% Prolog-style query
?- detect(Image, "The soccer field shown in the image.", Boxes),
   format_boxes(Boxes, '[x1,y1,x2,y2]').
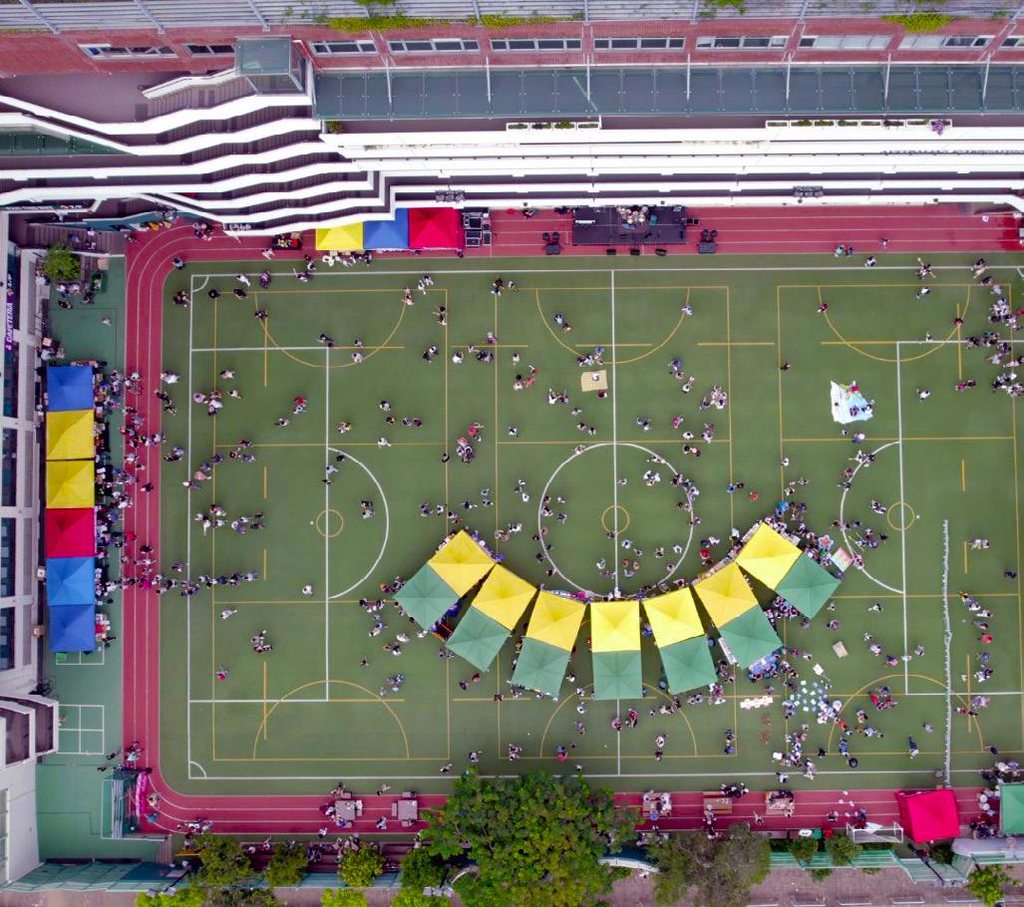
[161,251,1024,797]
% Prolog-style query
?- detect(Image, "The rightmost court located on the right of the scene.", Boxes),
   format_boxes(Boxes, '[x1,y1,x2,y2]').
[776,282,1024,757]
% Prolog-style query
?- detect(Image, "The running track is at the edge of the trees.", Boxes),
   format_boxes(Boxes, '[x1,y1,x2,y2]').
[122,178,1024,835]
